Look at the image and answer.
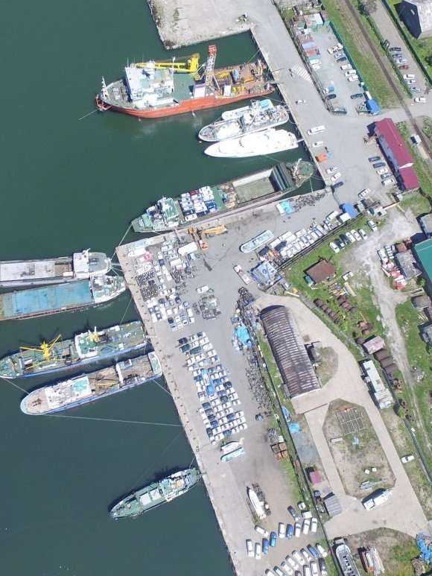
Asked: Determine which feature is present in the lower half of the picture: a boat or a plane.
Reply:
boat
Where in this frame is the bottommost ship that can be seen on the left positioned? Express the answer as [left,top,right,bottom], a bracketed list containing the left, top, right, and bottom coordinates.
[110,463,205,518]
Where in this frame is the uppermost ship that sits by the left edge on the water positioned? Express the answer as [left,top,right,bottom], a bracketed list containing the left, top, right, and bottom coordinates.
[0,248,112,284]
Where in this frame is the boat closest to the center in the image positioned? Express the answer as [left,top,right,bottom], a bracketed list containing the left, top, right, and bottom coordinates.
[241,228,275,249]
